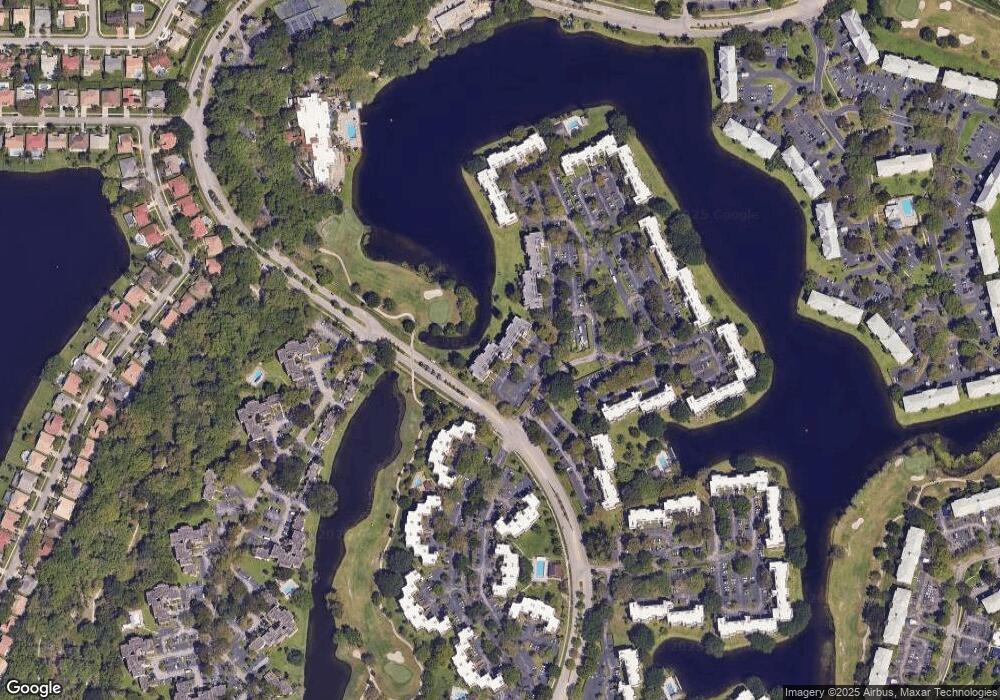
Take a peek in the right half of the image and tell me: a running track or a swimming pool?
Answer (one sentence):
The one visible in the right half of the image is a swimming pool.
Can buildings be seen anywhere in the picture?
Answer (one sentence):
Yes, there's a building down there.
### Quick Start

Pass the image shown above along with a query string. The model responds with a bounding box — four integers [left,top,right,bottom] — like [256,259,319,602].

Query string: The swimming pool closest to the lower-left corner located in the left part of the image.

[277,579,299,597]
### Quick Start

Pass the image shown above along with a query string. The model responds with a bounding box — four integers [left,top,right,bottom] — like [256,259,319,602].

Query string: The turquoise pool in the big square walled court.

[885,197,918,228]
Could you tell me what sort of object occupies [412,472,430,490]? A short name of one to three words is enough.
swimming pool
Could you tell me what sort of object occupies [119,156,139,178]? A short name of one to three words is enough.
house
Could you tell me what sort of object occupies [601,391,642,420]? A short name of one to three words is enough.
building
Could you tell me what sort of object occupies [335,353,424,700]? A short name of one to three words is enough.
golf course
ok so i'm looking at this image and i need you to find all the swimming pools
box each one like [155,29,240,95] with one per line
[246,367,264,387]
[561,115,584,136]
[885,197,918,228]
[450,686,469,700]
[532,558,549,582]
[664,677,682,700]
[412,472,430,490]
[340,108,360,146]
[277,579,299,597]
[655,450,671,472]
